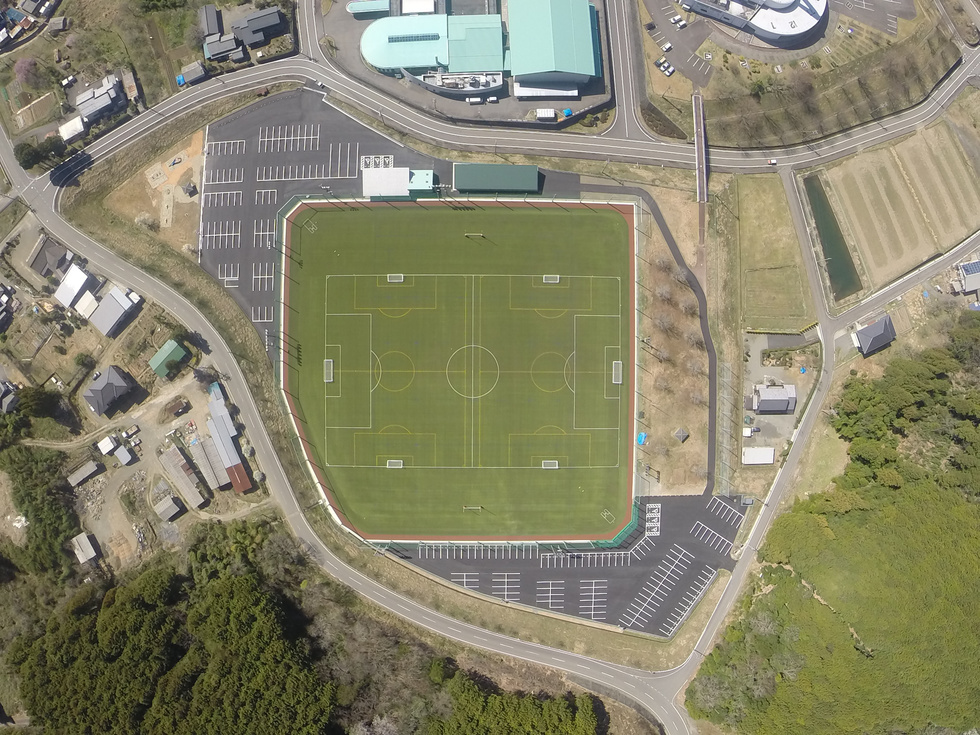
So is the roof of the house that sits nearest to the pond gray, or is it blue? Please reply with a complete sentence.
The color of the roof of the house that sits nearest to the pond is gray.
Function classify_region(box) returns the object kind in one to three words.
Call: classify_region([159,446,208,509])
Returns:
barn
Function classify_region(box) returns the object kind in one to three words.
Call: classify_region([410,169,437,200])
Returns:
building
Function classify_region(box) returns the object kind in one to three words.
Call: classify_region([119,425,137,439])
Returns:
vehicle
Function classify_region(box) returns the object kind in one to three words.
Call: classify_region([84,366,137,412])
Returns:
house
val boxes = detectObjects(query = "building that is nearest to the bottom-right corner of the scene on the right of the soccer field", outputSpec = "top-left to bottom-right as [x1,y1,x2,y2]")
[741,447,774,464]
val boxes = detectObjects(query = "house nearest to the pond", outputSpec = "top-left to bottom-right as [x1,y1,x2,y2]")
[847,314,898,355]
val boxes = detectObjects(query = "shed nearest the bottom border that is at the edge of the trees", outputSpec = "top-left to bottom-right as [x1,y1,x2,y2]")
[73,531,101,564]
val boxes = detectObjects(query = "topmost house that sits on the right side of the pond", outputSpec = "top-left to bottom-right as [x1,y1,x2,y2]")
[946,258,980,292]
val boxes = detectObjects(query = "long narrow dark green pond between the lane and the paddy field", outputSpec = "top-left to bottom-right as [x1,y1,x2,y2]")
[803,174,863,302]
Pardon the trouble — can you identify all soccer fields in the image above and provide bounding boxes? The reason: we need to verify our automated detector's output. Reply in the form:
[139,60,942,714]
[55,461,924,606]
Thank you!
[283,202,634,541]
